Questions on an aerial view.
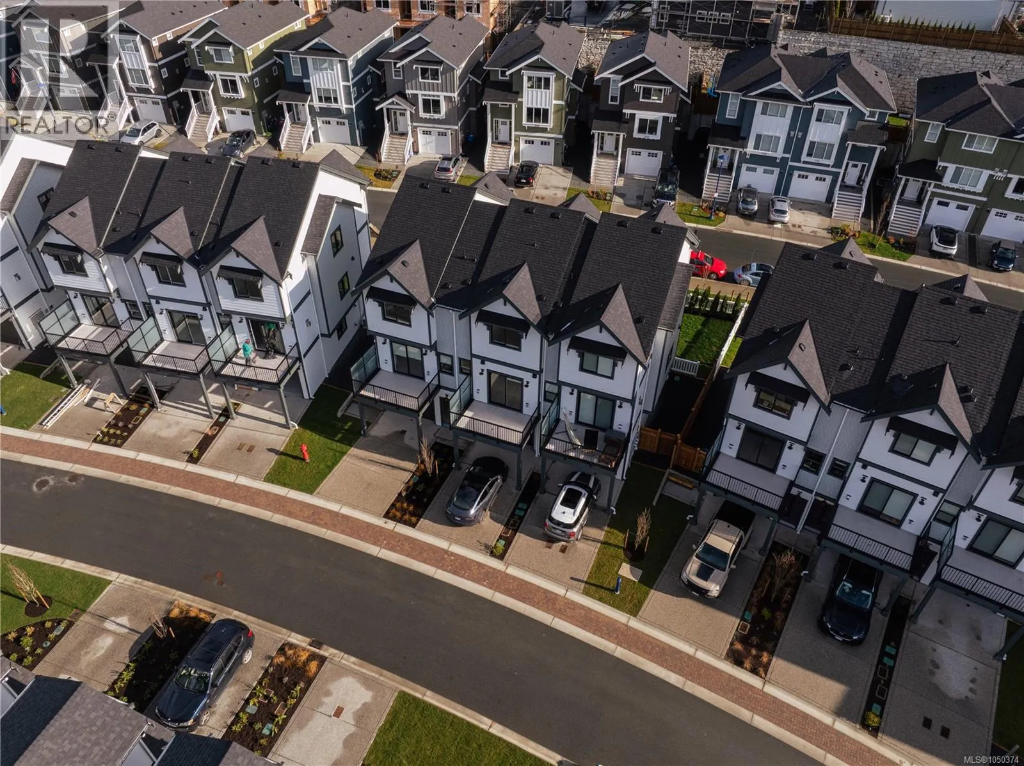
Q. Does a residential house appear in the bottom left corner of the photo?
Yes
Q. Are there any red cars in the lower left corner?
No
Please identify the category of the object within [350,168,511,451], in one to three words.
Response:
house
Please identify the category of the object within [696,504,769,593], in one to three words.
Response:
vehicle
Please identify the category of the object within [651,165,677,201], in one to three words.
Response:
car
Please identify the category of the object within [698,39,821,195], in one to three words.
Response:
house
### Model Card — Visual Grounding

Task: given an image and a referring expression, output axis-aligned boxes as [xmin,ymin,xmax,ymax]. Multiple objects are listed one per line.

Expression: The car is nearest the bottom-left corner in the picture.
[157,616,260,731]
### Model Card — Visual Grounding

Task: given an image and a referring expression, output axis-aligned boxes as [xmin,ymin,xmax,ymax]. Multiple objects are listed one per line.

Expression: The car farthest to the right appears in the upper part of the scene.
[989,233,1024,268]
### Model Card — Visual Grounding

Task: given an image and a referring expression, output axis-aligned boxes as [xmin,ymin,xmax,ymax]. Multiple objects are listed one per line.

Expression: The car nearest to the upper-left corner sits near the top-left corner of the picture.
[116,113,165,138]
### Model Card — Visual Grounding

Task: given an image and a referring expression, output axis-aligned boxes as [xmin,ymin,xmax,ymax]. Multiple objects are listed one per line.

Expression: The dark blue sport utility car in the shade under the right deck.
[827,559,886,640]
